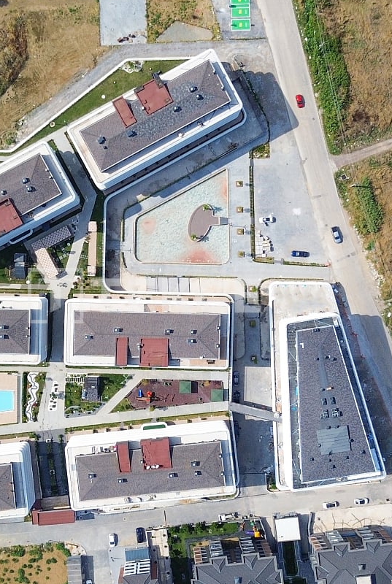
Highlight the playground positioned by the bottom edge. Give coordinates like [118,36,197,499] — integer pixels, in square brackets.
[186,520,263,573]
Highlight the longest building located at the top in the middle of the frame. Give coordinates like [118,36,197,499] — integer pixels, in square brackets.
[68,51,242,195]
